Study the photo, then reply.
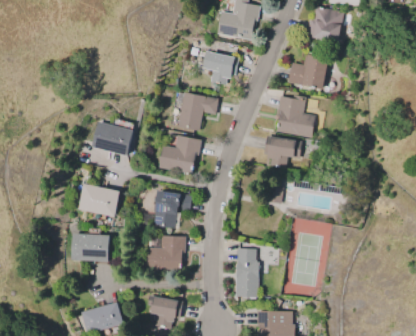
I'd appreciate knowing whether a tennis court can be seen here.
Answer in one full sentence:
Yes, a tennis court appears in the view.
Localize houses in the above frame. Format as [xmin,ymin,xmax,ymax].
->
[202,50,235,84]
[310,8,345,39]
[92,120,134,155]
[159,135,202,174]
[78,184,120,218]
[82,303,121,330]
[149,296,178,330]
[148,235,187,270]
[277,96,316,138]
[156,192,181,228]
[258,310,296,336]
[266,136,304,167]
[236,248,260,298]
[288,54,328,90]
[71,233,110,263]
[177,92,220,132]
[218,0,262,40]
